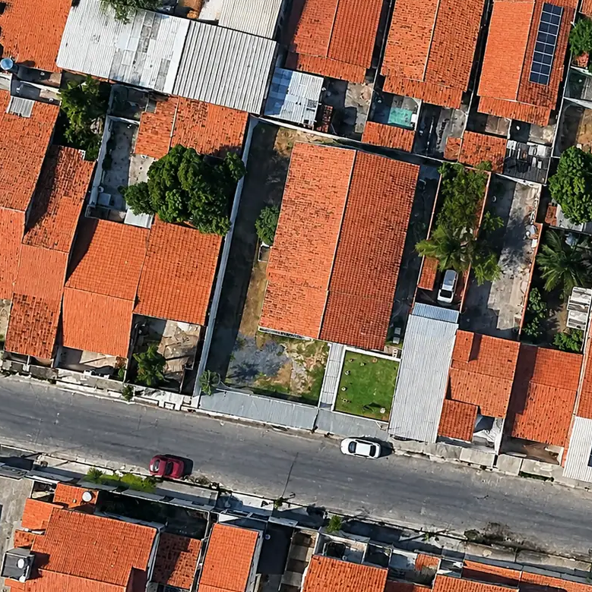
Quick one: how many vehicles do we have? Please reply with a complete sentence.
I count 3 vehicles.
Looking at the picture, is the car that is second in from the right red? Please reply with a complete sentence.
No, the car that is second in from the right is actually white.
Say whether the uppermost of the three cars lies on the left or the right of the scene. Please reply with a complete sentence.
It is on the right.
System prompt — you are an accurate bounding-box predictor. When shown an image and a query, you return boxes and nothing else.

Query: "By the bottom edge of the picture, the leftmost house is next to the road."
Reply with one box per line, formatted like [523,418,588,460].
[8,478,163,592]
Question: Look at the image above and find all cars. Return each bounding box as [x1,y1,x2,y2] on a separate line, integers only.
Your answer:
[342,438,382,458]
[435,266,458,306]
[149,457,186,477]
